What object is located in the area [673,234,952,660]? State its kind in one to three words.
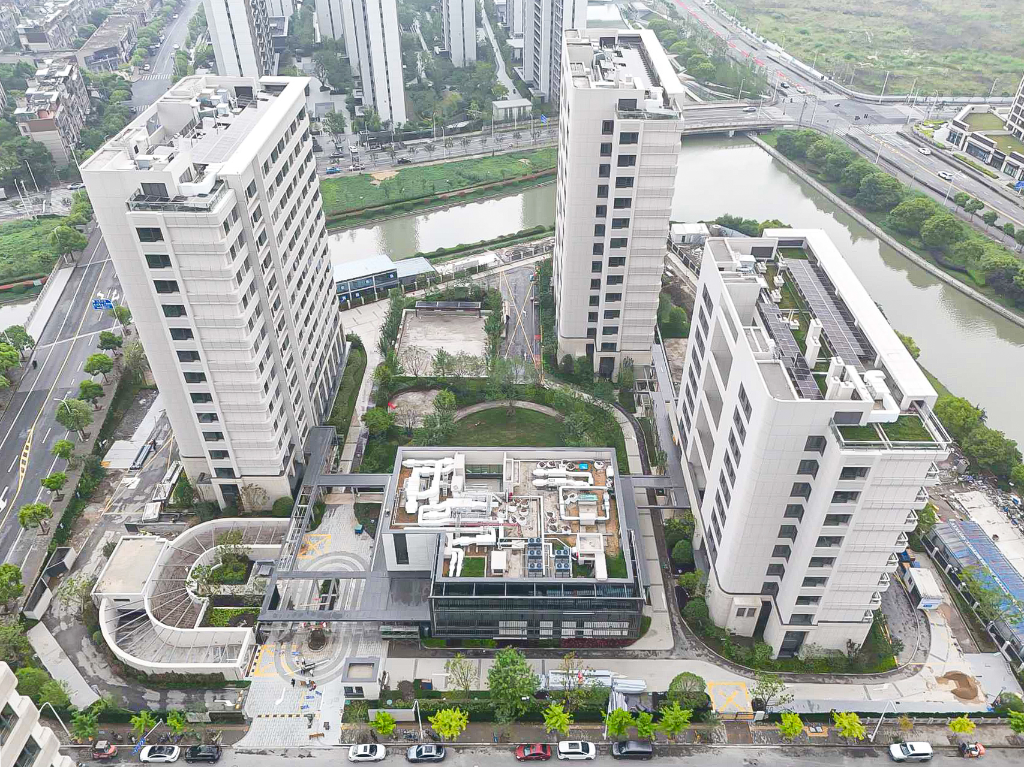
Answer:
building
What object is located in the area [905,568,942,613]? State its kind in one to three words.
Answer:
building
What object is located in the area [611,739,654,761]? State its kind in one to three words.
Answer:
car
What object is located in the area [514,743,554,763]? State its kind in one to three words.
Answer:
car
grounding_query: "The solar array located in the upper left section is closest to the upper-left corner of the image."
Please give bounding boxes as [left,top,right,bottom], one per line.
[190,99,273,162]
